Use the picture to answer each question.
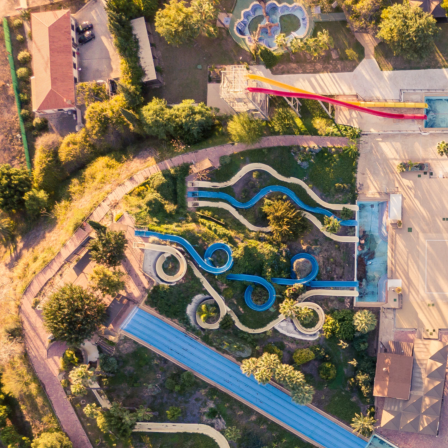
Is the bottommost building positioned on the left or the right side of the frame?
right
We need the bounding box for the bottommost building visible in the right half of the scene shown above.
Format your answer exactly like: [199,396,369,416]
[373,353,413,399]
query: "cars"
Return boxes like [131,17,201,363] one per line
[80,31,95,45]
[79,21,94,33]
